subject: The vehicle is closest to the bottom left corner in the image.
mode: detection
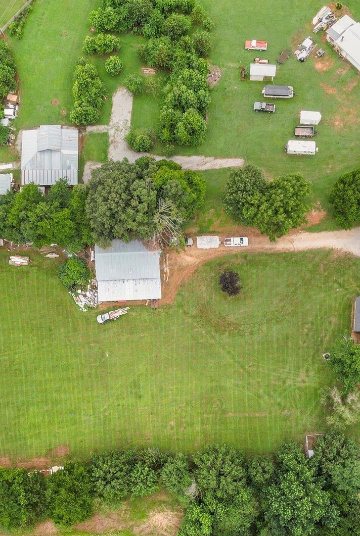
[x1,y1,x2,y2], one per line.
[97,308,121,324]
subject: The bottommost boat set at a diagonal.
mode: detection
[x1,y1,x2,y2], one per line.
[299,41,318,61]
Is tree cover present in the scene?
Yes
